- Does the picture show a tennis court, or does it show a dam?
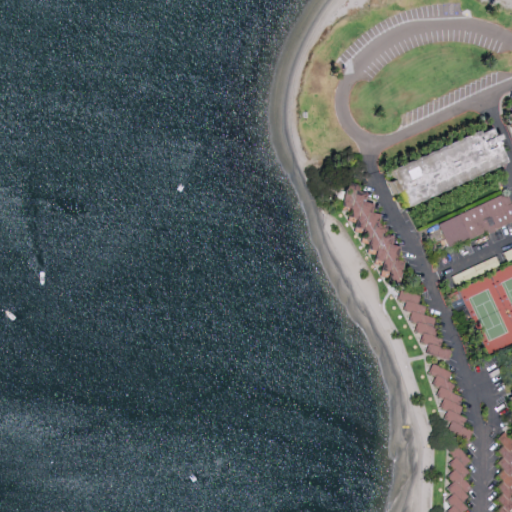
tennis court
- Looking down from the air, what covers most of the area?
water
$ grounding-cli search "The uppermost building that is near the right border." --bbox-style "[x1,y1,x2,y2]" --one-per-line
[390,128,510,206]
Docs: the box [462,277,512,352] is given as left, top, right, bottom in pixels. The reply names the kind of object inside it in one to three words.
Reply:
tennis court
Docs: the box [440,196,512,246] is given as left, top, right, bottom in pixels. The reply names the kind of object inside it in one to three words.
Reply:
building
